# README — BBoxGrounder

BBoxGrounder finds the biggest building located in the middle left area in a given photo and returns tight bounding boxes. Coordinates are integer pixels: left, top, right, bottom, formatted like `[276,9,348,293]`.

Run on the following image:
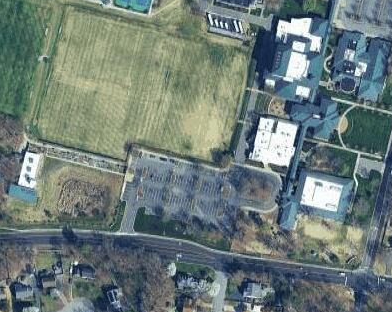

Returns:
[7,152,41,204]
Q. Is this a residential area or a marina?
residential area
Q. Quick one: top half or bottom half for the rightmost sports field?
top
